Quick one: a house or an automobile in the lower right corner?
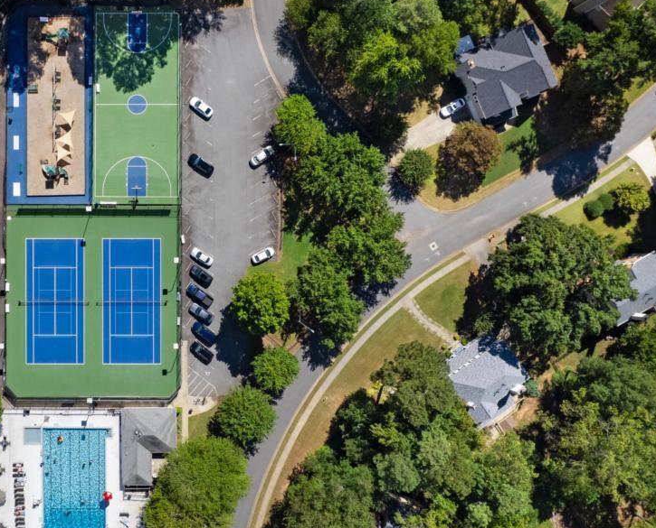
house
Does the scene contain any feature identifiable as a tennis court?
Yes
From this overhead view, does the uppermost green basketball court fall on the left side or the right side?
left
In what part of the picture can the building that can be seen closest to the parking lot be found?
bottom left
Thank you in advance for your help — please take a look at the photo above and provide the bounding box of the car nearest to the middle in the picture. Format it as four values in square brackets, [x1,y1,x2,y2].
[250,247,276,265]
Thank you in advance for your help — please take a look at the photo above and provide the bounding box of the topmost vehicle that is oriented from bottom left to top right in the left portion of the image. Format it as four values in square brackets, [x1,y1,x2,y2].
[250,145,274,166]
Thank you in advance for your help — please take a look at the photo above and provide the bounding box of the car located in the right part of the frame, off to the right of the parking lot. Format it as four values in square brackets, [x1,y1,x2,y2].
[441,98,467,117]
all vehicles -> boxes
[185,285,214,307]
[189,342,214,363]
[189,265,213,285]
[189,304,214,324]
[189,247,214,267]
[250,247,276,265]
[189,154,213,174]
[189,98,214,118]
[192,324,217,345]
[250,145,274,166]
[441,98,467,117]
